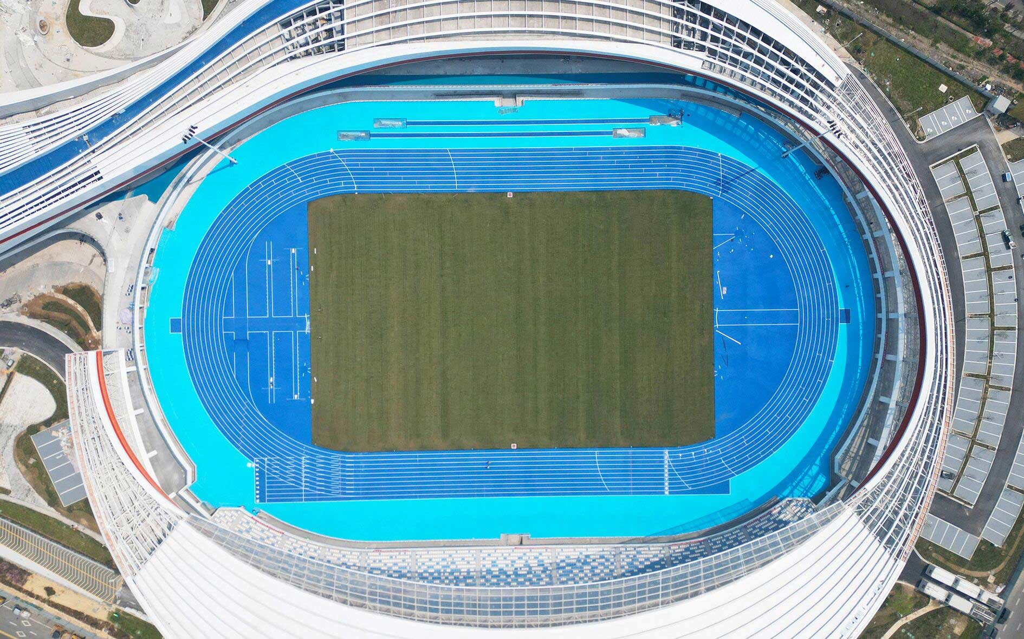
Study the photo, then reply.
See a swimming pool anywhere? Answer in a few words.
No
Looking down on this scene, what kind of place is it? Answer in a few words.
sports ground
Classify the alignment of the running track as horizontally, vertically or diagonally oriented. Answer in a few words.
horizontally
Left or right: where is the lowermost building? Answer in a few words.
right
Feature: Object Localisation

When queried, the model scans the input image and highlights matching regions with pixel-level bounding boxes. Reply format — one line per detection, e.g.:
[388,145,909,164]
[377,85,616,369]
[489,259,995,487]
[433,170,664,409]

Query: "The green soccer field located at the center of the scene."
[306,188,716,453]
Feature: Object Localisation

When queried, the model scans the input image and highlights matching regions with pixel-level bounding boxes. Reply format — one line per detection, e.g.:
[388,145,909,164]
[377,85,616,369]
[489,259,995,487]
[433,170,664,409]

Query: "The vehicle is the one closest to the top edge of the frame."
[1002,168,1015,184]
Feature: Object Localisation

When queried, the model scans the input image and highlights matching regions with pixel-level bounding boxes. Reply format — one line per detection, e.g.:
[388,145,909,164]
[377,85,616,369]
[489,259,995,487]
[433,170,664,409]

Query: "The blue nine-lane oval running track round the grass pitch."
[170,145,851,504]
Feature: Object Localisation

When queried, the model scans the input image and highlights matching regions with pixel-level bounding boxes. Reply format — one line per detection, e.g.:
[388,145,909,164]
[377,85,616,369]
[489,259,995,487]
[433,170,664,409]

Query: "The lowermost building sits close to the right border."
[986,95,1011,116]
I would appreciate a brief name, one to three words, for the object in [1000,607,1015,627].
car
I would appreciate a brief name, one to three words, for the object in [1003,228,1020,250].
vehicle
